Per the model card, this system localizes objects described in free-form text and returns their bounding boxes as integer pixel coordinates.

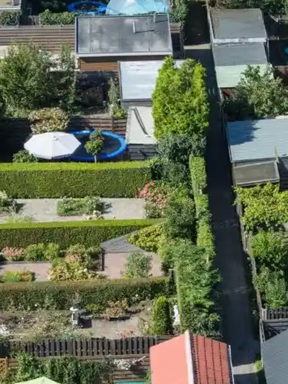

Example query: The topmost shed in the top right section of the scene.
[209,8,265,70]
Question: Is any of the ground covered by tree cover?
Yes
